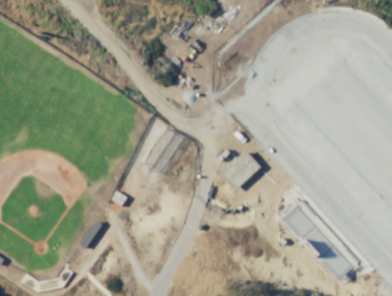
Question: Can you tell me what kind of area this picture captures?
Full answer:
What you see here is a sports ground.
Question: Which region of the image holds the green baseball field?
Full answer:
The green baseball field sits in the left section of the image.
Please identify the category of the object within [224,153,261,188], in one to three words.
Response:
shed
